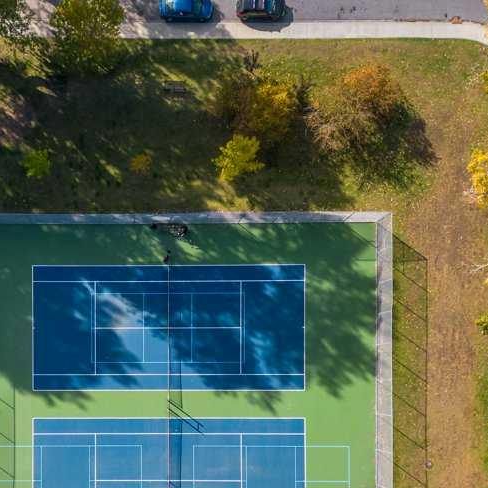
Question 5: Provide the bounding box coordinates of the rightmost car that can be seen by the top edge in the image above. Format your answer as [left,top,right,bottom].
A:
[235,0,287,22]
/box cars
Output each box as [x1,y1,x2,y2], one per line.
[159,0,212,23]
[235,0,287,22]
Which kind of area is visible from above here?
sports ground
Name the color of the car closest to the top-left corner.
blue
